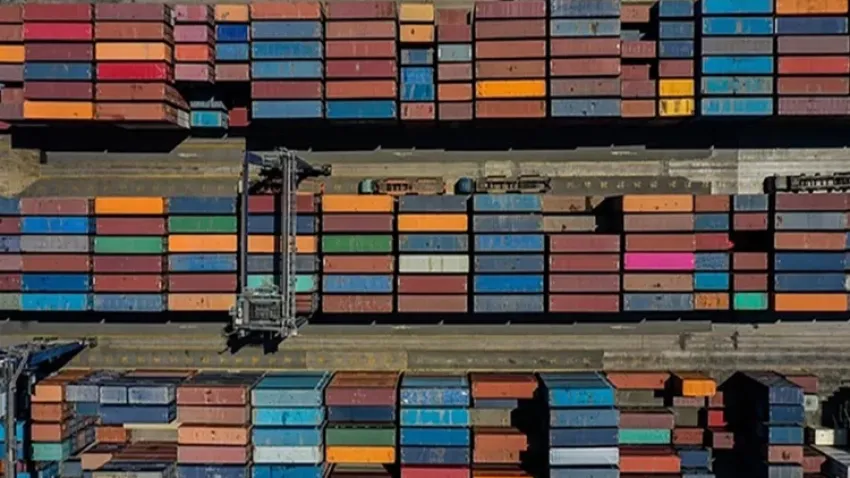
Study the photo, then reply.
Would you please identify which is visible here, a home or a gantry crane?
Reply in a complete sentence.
There is a gantry crane in the scene.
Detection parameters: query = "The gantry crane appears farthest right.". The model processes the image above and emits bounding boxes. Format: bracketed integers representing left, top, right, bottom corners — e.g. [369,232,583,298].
[222,144,334,339]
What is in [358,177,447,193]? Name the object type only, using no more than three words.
vehicle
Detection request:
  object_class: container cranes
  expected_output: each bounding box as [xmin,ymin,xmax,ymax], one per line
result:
[0,337,97,478]
[222,144,334,339]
